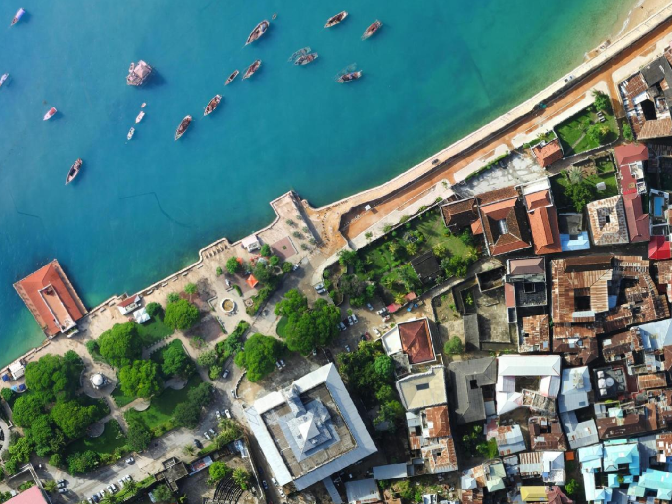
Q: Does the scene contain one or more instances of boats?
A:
Yes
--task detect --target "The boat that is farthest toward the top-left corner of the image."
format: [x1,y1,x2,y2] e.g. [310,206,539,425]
[11,8,25,28]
